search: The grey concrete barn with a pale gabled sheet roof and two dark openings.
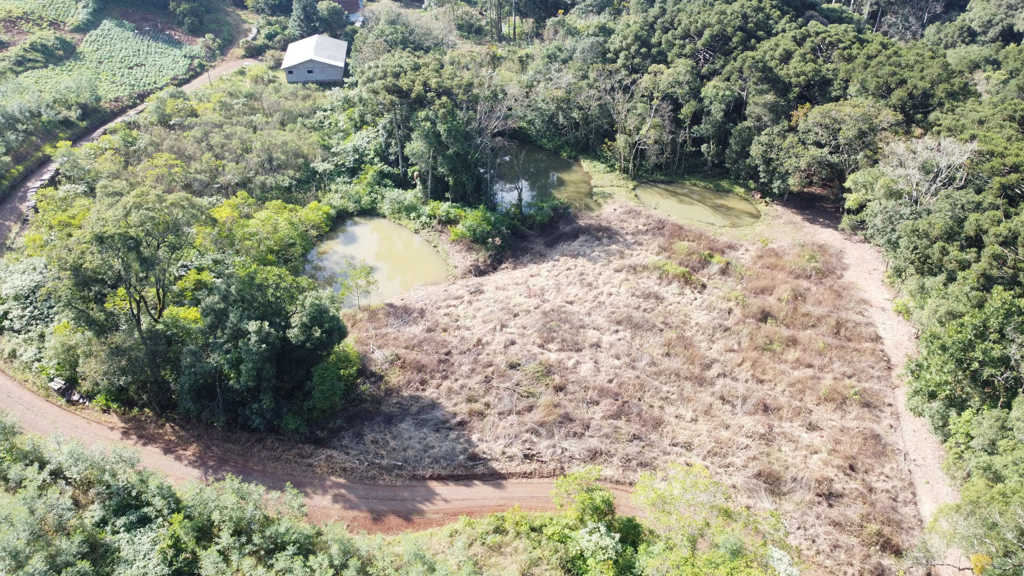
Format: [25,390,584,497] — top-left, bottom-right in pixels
[278,34,345,85]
